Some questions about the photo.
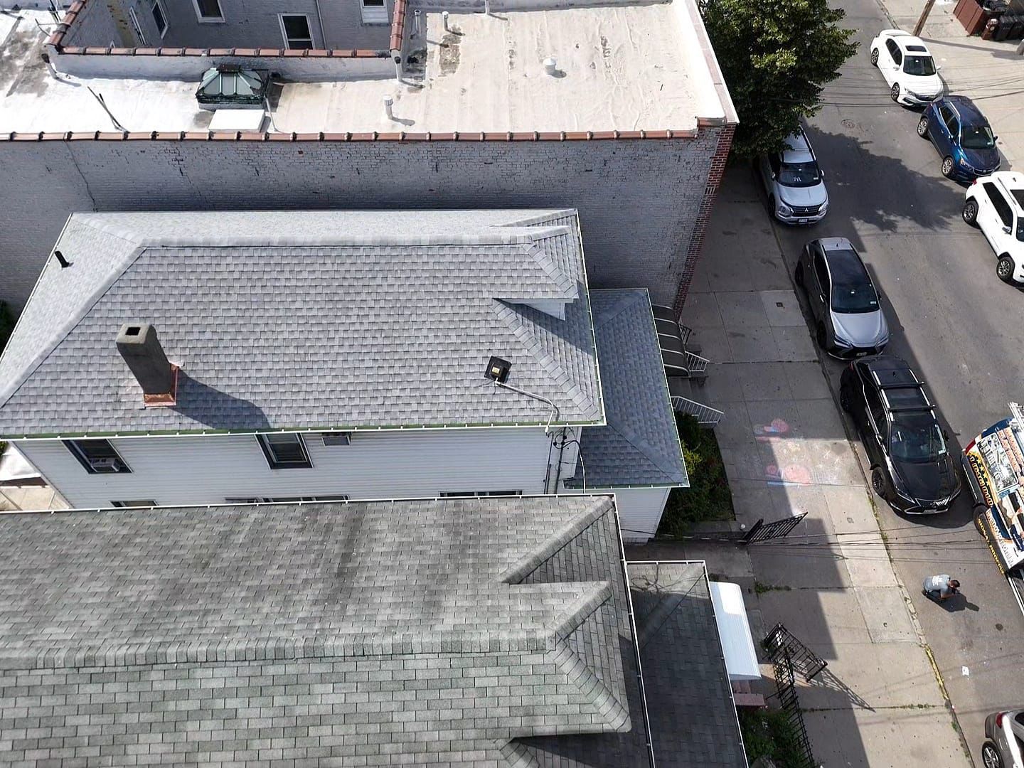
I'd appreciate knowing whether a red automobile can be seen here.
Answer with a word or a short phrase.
No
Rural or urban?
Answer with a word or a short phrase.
urban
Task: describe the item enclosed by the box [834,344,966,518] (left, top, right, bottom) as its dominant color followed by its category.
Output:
black car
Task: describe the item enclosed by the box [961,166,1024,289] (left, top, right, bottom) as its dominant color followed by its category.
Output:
white car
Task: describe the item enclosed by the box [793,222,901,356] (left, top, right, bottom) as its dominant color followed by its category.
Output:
black car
